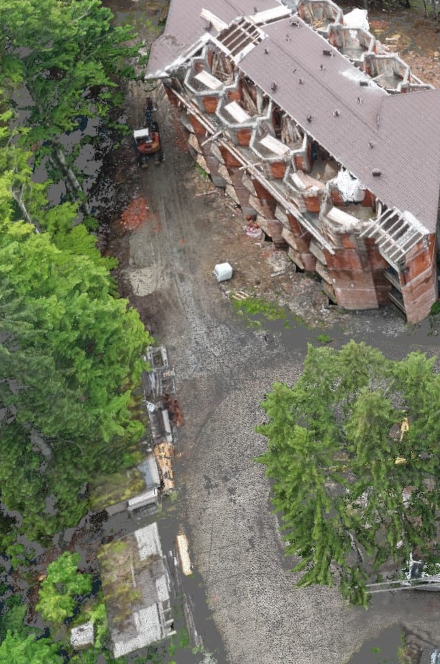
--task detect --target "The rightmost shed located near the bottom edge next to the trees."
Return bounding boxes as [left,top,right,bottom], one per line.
[98,524,185,664]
